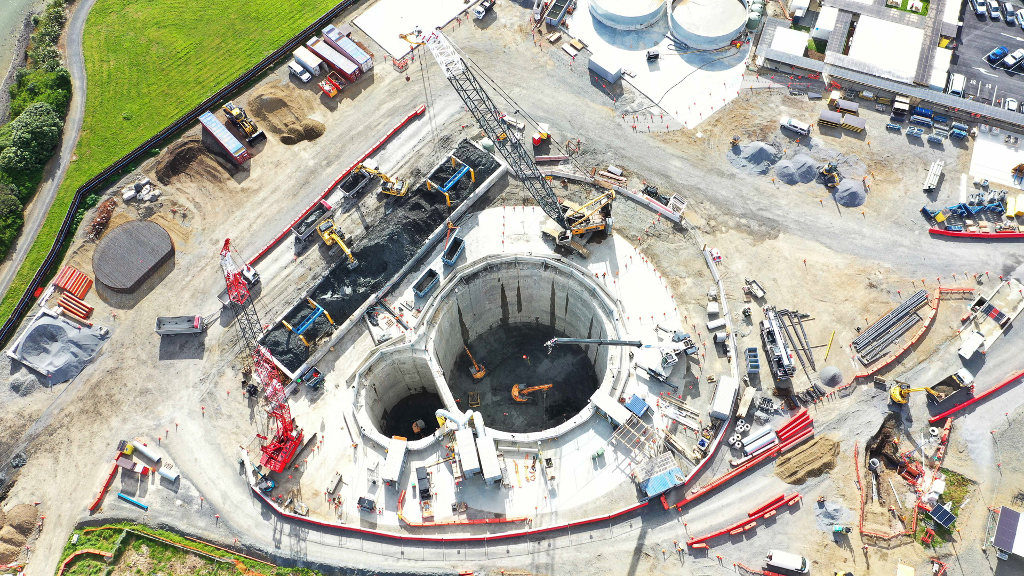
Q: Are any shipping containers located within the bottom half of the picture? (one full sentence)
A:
Yes, you'll find a shipping container within the bottom half of the picture.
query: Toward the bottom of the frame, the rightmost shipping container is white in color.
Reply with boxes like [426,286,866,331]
[709,374,737,421]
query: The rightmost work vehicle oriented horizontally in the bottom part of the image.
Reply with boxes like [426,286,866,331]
[883,381,960,415]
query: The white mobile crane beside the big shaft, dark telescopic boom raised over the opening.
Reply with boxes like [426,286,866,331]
[542,327,698,394]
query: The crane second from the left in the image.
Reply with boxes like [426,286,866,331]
[392,30,617,262]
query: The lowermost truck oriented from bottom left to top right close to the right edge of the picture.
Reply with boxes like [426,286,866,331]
[926,370,981,417]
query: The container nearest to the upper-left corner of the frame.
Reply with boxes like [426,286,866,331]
[198,111,251,165]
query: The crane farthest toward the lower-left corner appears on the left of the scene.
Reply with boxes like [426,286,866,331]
[216,232,324,481]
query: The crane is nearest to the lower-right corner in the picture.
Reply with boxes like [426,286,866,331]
[760,292,804,378]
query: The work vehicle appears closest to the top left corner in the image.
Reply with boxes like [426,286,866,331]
[224,103,261,143]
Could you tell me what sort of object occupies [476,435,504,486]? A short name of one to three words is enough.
shipping container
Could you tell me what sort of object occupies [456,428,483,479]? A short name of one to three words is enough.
shipping container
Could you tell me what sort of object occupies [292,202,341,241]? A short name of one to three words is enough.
trailer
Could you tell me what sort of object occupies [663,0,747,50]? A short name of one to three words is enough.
water tank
